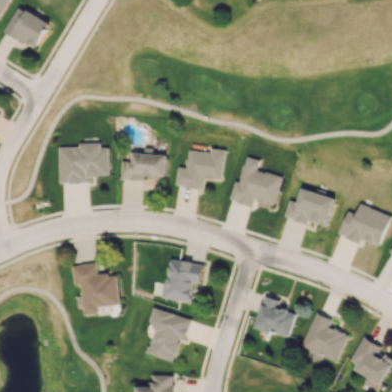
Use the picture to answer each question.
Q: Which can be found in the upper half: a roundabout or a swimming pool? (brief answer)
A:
swimming pool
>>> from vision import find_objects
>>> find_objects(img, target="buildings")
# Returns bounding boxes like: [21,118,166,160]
[134,376,174,392]
[6,11,49,48]
[231,158,284,208]
[146,308,191,362]
[122,148,168,181]
[339,203,392,246]
[254,298,296,337]
[349,338,392,392]
[163,260,204,304]
[176,144,227,190]
[59,144,110,185]
[73,262,120,317]
[286,190,336,227]
[304,313,350,364]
